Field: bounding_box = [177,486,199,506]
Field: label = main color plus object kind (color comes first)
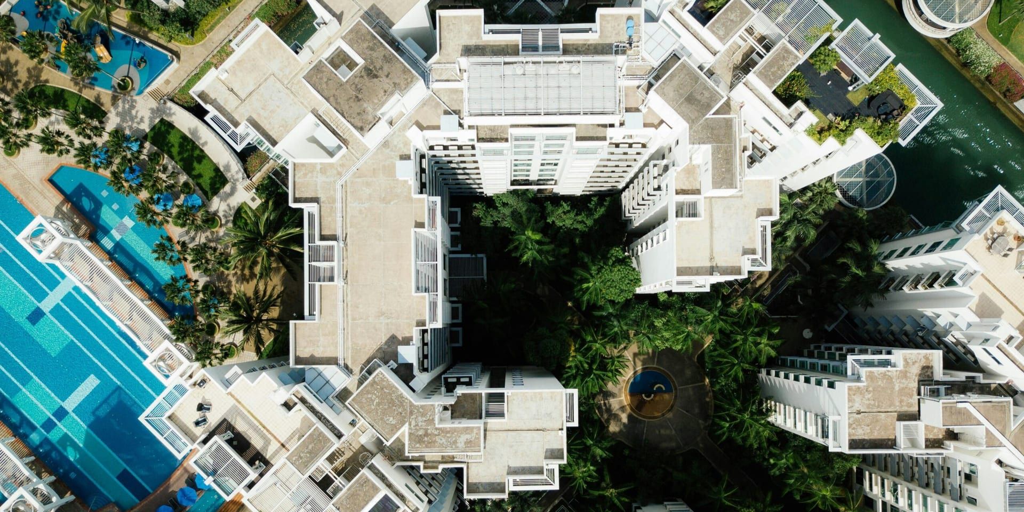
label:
blue umbrella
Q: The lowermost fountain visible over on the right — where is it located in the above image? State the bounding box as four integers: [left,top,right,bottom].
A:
[624,365,678,420]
